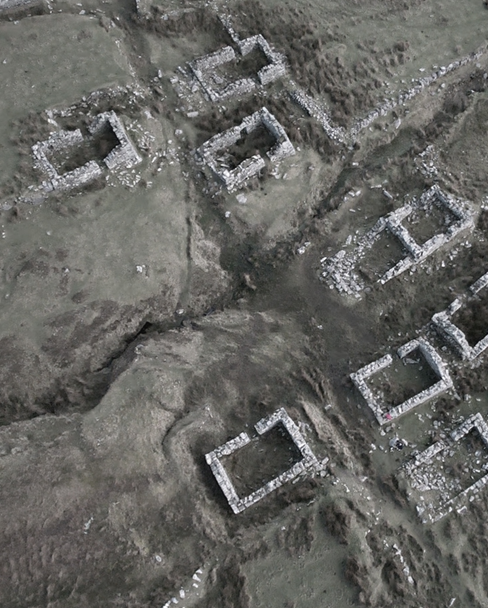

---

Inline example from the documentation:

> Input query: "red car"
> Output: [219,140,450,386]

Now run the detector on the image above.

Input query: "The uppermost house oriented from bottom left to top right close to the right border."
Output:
[322,183,477,298]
